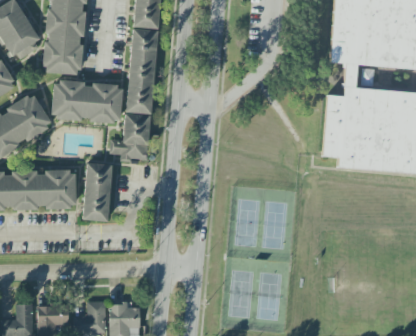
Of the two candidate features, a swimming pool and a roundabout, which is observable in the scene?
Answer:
swimming pool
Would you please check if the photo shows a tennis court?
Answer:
Yes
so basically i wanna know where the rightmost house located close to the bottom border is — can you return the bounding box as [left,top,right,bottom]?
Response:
[108,302,141,336]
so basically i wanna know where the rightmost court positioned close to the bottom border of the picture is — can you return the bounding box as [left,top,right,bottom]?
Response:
[252,260,291,333]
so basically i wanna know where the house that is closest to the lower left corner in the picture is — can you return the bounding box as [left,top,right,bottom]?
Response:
[4,304,34,336]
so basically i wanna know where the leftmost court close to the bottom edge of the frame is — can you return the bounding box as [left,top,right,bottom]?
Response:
[221,258,258,331]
